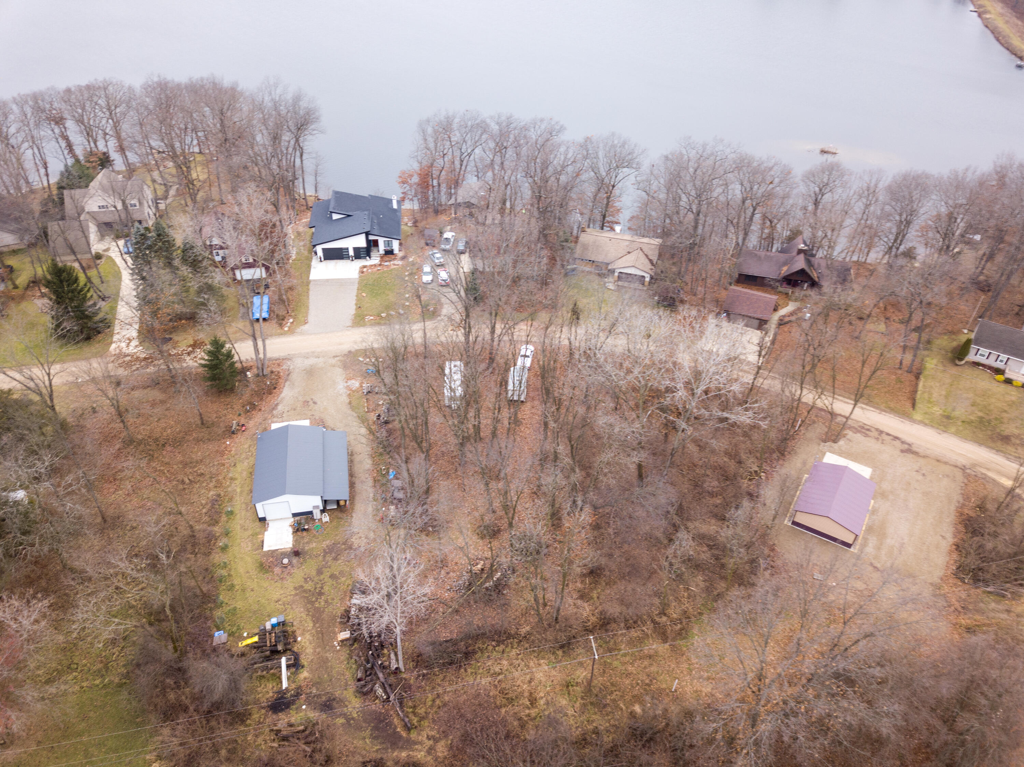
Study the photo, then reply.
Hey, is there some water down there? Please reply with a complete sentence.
Yes, there's water in this view.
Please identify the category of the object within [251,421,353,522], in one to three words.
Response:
barn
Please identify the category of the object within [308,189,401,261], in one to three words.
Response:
house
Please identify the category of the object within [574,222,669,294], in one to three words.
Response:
house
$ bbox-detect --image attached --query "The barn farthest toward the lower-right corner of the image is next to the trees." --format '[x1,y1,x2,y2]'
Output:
[784,457,878,553]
